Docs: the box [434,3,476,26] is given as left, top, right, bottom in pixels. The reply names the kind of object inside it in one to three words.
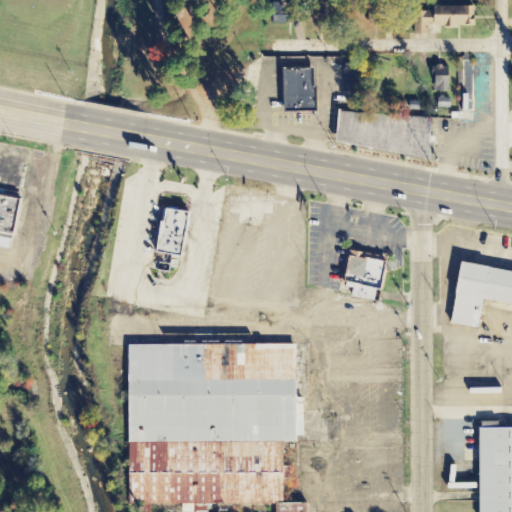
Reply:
house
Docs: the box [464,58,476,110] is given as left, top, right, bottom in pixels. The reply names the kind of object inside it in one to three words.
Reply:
building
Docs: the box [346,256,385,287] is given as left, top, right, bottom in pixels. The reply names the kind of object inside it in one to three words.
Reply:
building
